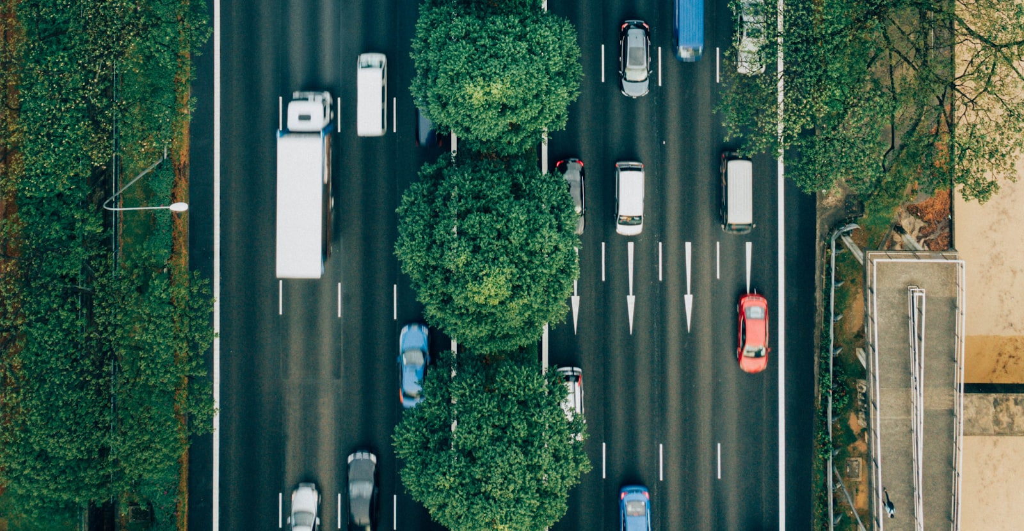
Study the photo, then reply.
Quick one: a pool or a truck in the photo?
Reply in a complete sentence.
Of the two, only a truck appears.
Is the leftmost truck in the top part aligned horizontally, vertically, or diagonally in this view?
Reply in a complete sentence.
Seen from above, the leftmost truck in the top part lies vertically.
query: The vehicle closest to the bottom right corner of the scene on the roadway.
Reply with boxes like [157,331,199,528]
[735,293,771,373]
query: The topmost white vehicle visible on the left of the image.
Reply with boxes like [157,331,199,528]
[353,53,390,139]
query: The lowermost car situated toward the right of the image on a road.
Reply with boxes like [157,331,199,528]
[620,484,650,531]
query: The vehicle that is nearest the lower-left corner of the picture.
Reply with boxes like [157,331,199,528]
[287,482,323,531]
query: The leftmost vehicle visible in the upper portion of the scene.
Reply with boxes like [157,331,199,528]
[277,90,339,278]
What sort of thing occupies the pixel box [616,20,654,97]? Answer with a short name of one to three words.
car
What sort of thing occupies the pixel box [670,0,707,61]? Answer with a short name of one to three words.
van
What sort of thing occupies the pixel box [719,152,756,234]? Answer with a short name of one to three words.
van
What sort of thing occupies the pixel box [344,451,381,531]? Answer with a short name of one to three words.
car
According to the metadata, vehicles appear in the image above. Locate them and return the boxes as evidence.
[353,53,390,139]
[735,293,771,373]
[554,158,588,232]
[277,90,339,278]
[409,77,444,148]
[670,0,707,61]
[620,484,650,531]
[616,20,654,97]
[395,322,432,407]
[553,366,587,445]
[287,482,323,531]
[344,451,381,531]
[719,152,756,234]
